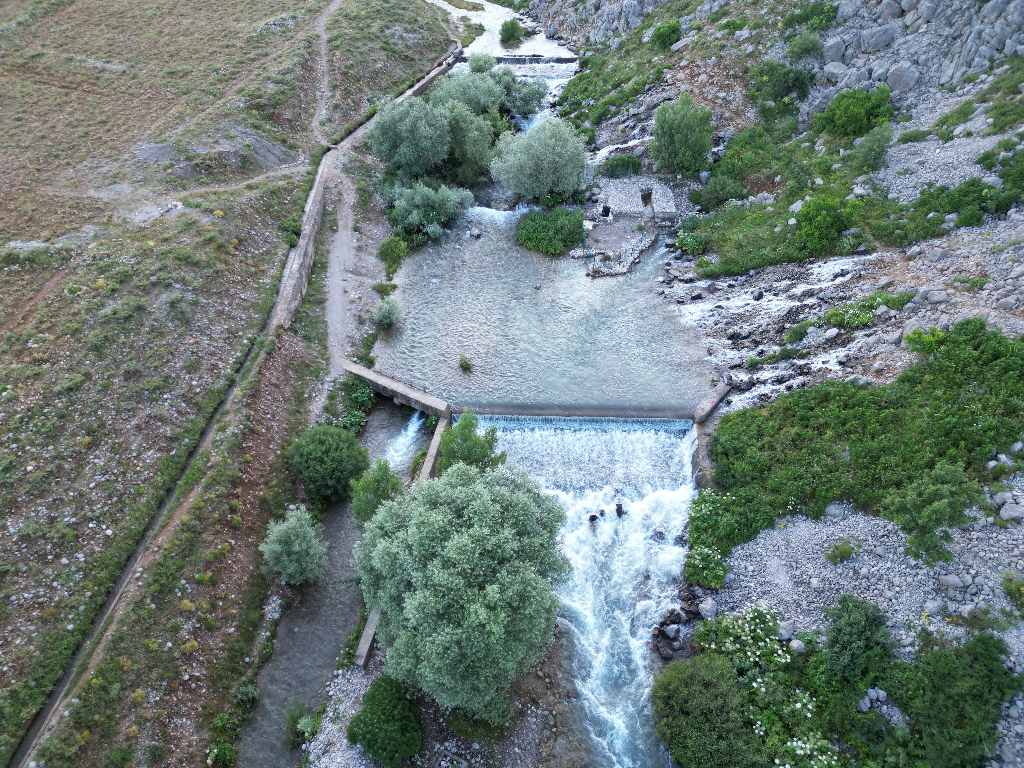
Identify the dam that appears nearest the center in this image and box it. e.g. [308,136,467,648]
[455,412,546,431]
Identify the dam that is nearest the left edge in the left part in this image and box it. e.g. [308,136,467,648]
[341,360,456,432]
